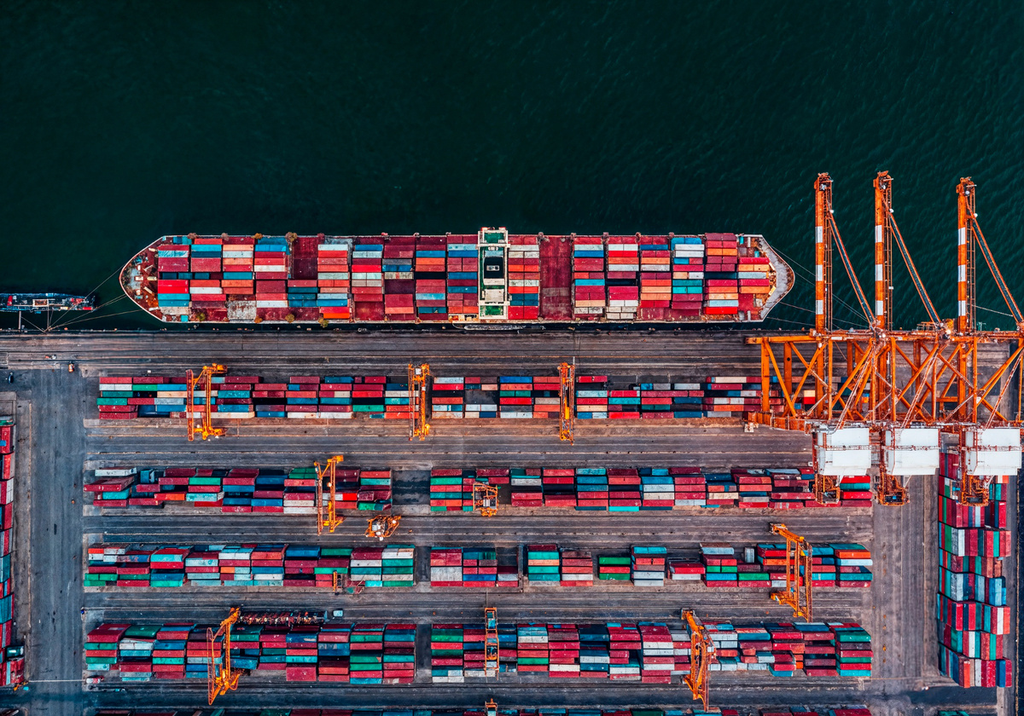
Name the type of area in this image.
port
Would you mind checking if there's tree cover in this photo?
No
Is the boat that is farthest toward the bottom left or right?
left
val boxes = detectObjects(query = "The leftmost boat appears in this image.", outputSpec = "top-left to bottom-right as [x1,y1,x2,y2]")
[0,293,98,330]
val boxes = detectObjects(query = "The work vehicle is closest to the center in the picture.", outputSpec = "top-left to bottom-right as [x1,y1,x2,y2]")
[473,476,500,514]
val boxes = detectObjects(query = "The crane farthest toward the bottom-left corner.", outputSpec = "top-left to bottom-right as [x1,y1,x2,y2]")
[204,611,253,707]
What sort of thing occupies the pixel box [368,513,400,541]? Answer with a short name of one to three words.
work vehicle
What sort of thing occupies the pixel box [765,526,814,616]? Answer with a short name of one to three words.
crane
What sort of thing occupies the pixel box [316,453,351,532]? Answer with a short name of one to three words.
crane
